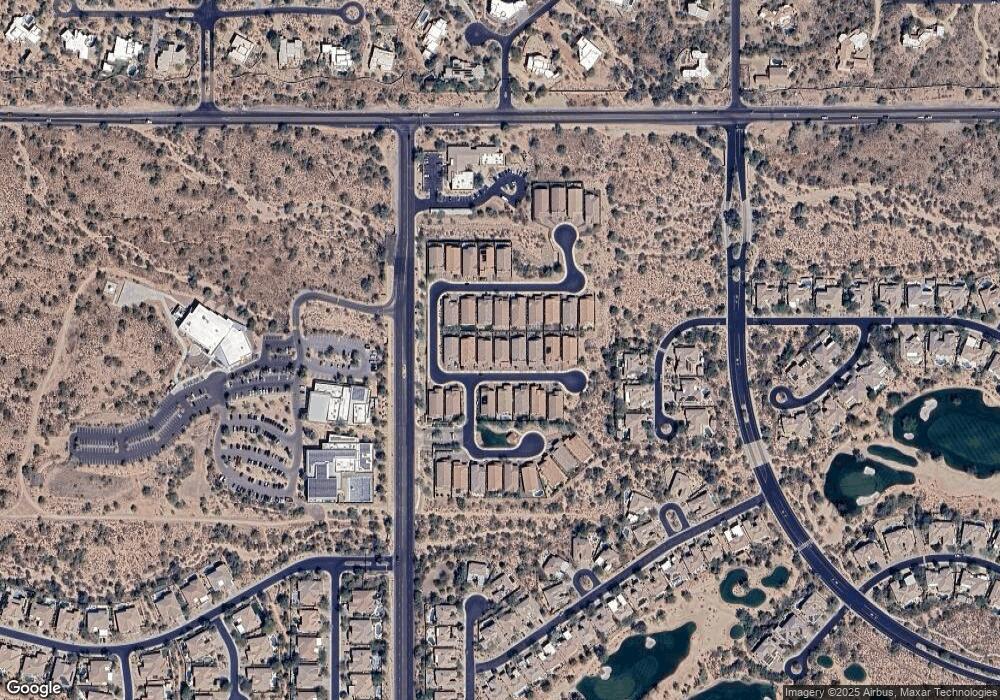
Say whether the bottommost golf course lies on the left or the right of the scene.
right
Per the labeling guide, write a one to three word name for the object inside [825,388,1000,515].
golf course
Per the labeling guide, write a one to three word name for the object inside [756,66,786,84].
building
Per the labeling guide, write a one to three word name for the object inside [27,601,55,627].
house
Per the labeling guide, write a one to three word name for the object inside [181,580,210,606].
house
